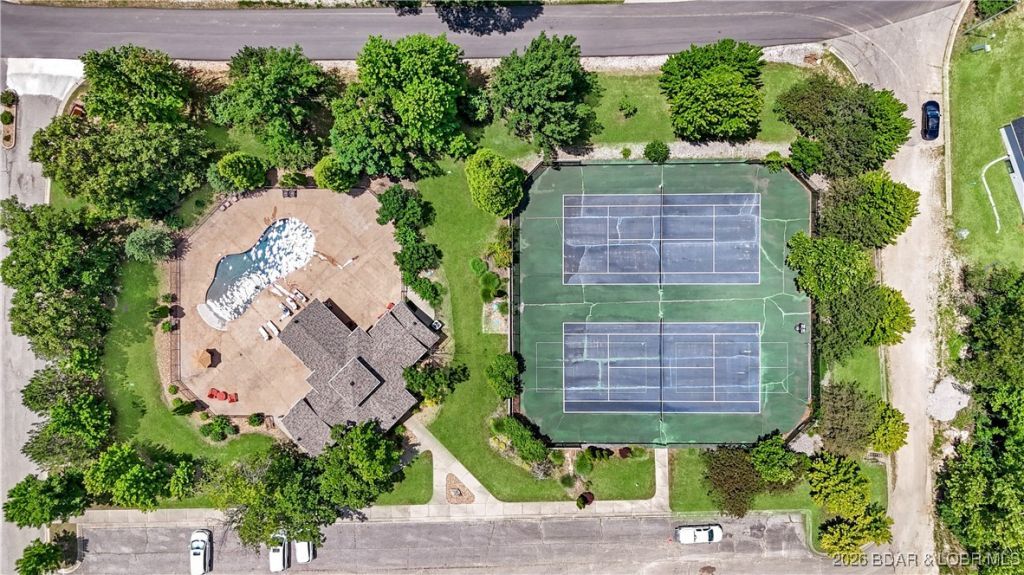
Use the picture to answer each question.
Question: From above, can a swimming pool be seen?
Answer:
Yes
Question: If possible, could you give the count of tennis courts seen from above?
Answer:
2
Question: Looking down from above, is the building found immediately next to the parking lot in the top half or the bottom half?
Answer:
bottom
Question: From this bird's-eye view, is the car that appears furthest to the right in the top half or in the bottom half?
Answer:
top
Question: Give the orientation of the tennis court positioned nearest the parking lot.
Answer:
from side to side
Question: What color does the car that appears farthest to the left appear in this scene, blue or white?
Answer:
white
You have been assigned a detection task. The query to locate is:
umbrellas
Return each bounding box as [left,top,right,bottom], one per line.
[199,348,214,368]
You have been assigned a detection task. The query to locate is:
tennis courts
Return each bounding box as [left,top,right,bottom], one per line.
[563,184,761,293]
[534,314,787,423]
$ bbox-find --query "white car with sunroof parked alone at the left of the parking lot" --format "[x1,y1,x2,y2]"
[189,529,213,575]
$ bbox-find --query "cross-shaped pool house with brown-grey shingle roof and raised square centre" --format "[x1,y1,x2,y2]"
[278,298,440,456]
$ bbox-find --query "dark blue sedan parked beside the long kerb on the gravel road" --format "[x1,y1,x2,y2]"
[918,102,942,141]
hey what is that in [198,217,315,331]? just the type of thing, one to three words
swimming pool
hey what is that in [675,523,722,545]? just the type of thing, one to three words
truck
